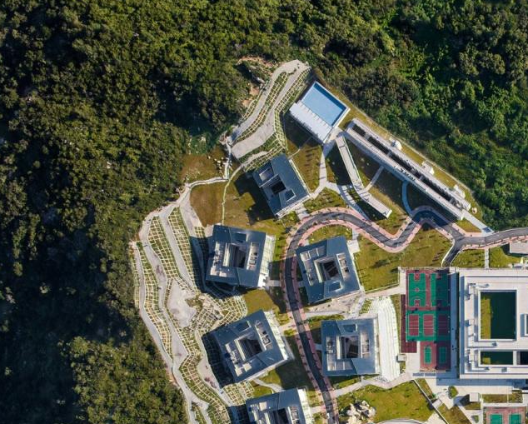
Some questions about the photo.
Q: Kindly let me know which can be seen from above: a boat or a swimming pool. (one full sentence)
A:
There is a swimming pool in the scene.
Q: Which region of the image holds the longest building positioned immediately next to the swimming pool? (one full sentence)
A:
The longest building positioned immediately next to the swimming pool appears toward the right of the photo.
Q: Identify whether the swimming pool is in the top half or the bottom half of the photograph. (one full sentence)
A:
Seen from above, the swimming pool lies in the top half of the view.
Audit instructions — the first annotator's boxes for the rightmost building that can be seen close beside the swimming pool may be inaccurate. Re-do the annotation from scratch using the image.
[346,119,472,223]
